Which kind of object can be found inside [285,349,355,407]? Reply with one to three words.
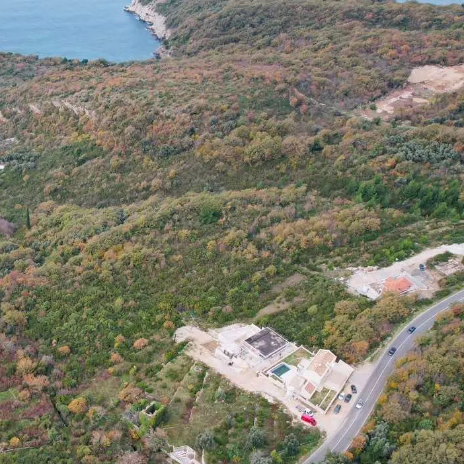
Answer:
house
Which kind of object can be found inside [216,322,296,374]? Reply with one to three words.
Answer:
house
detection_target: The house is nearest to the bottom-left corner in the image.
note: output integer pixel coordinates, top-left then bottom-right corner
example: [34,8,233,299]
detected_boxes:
[137,400,166,426]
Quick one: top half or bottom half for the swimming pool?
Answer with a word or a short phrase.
bottom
